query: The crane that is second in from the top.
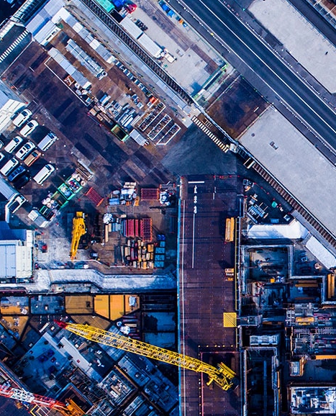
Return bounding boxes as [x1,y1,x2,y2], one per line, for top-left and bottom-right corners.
[54,318,247,396]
